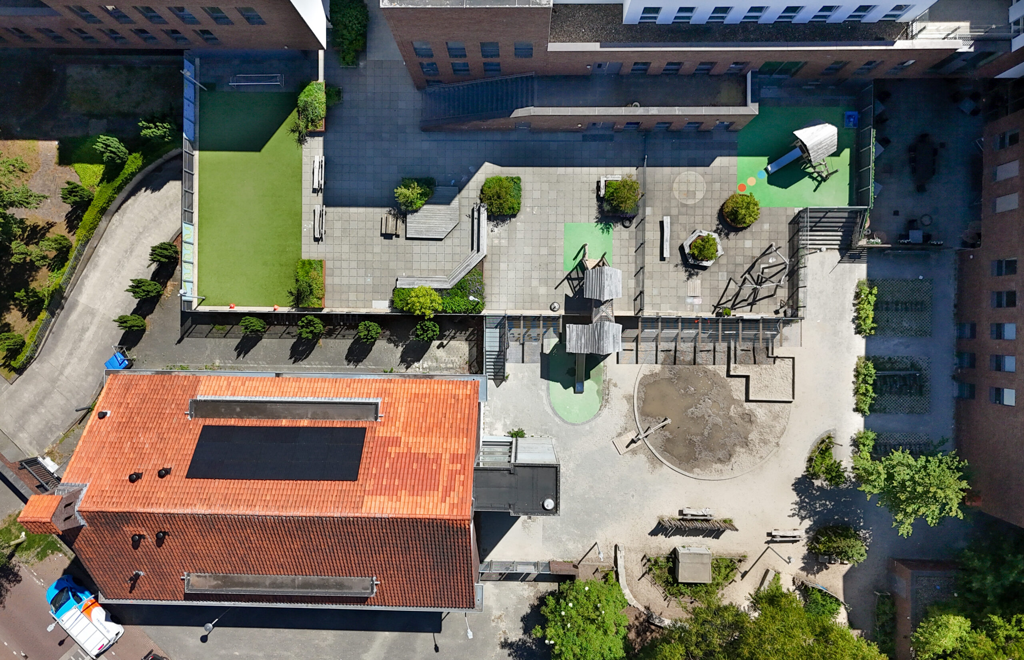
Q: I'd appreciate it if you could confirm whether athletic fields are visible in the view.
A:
Yes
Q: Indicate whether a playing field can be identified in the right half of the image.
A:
No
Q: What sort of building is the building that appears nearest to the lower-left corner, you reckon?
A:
home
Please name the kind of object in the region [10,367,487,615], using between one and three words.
house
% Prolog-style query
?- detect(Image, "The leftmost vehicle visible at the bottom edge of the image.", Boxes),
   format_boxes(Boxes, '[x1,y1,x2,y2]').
[50,576,129,660]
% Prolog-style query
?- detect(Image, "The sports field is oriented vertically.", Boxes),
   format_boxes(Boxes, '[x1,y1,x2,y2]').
[198,92,303,307]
